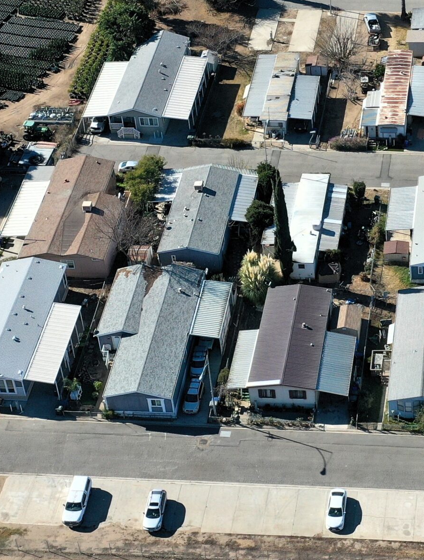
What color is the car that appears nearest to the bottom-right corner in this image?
white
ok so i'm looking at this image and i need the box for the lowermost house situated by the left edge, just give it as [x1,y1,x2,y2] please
[0,257,83,399]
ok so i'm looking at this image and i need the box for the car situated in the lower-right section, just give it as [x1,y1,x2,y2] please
[325,488,348,530]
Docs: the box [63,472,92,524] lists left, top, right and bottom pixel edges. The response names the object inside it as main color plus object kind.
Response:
white truck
